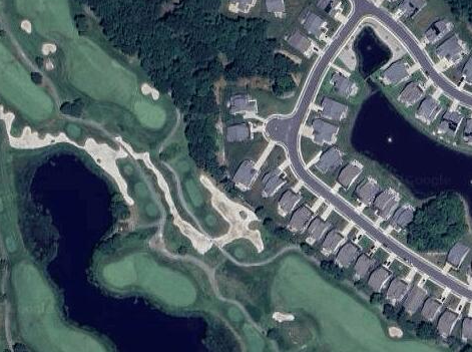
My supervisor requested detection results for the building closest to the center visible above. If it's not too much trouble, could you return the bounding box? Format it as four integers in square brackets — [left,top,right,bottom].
[232,163,259,192]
